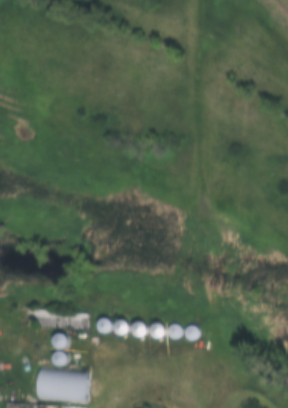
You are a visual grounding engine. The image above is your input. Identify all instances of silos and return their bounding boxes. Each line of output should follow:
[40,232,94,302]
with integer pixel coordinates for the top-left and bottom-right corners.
[167,324,184,340]
[130,321,149,340]
[52,350,71,368]
[148,322,167,340]
[112,320,131,337]
[184,324,202,342]
[96,317,114,334]
[51,332,70,350]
